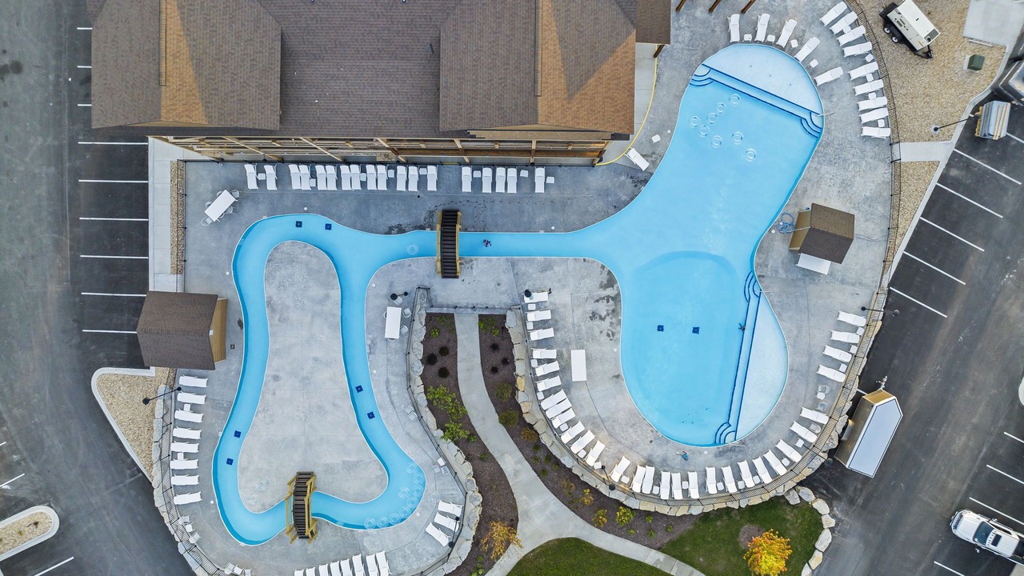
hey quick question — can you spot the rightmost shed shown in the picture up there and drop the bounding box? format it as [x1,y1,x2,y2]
[787,203,855,263]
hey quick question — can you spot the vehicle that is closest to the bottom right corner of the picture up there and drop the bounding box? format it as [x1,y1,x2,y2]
[943,506,1024,565]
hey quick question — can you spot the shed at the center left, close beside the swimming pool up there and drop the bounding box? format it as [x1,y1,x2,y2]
[135,291,230,370]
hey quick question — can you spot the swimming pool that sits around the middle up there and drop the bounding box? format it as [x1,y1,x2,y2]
[211,43,835,546]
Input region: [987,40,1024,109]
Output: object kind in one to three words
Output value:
trailer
